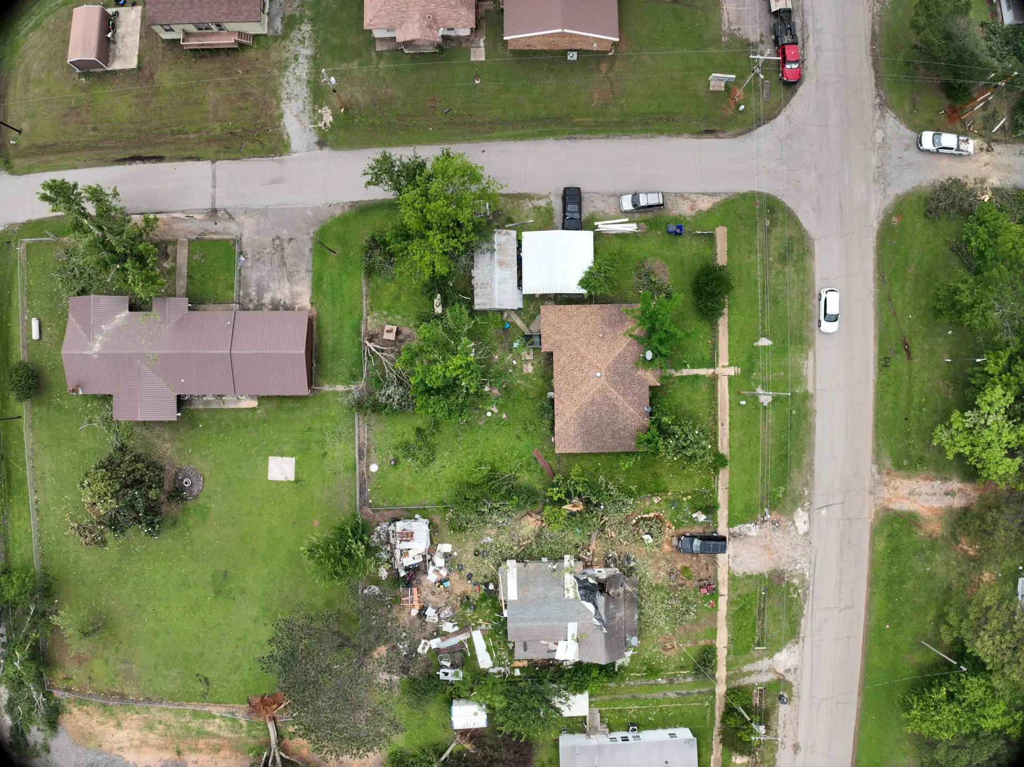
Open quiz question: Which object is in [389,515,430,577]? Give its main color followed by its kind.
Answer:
white trailer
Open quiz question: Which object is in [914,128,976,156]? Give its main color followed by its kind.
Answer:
white truck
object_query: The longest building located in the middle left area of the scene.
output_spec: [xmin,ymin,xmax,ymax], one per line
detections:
[60,296,311,421]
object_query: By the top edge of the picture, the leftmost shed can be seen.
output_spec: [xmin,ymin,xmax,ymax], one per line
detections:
[65,4,110,72]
